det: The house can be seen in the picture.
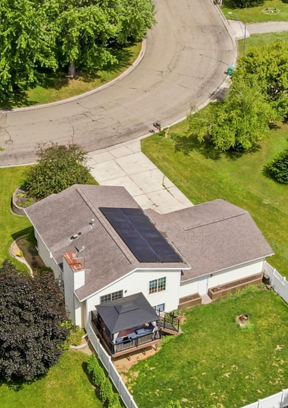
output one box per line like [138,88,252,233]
[24,182,276,348]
